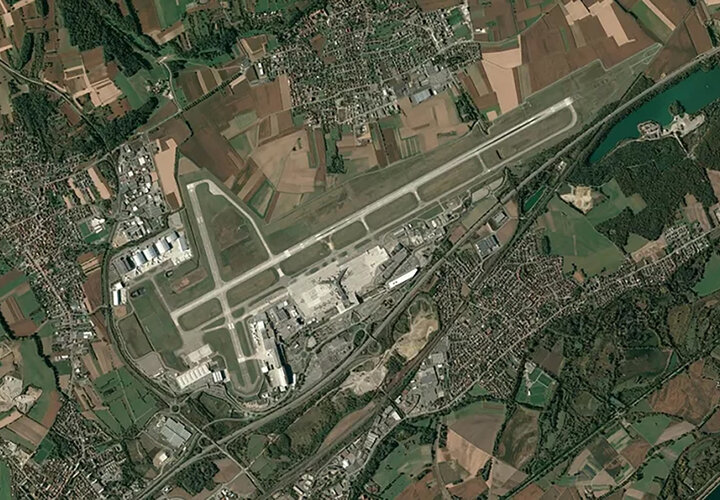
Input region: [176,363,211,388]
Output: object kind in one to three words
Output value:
hangar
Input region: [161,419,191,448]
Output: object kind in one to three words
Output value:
building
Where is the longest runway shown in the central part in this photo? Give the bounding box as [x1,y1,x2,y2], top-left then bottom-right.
[174,96,576,320]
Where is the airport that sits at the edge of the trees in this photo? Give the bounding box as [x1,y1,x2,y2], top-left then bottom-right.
[111,44,662,404]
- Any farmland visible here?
Yes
